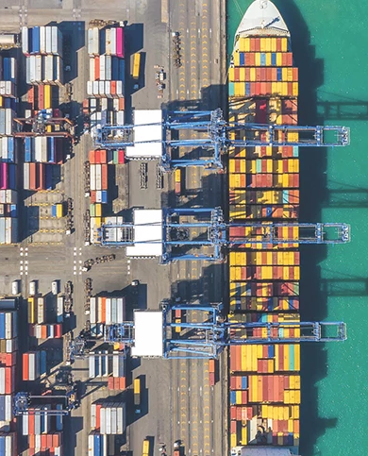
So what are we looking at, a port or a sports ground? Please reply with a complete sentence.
What you see here is a port.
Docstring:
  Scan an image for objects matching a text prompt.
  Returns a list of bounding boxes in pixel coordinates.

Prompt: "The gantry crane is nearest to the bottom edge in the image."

[12,388,75,417]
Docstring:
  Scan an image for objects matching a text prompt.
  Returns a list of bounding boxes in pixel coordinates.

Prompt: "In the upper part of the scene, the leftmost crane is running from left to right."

[13,115,74,143]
